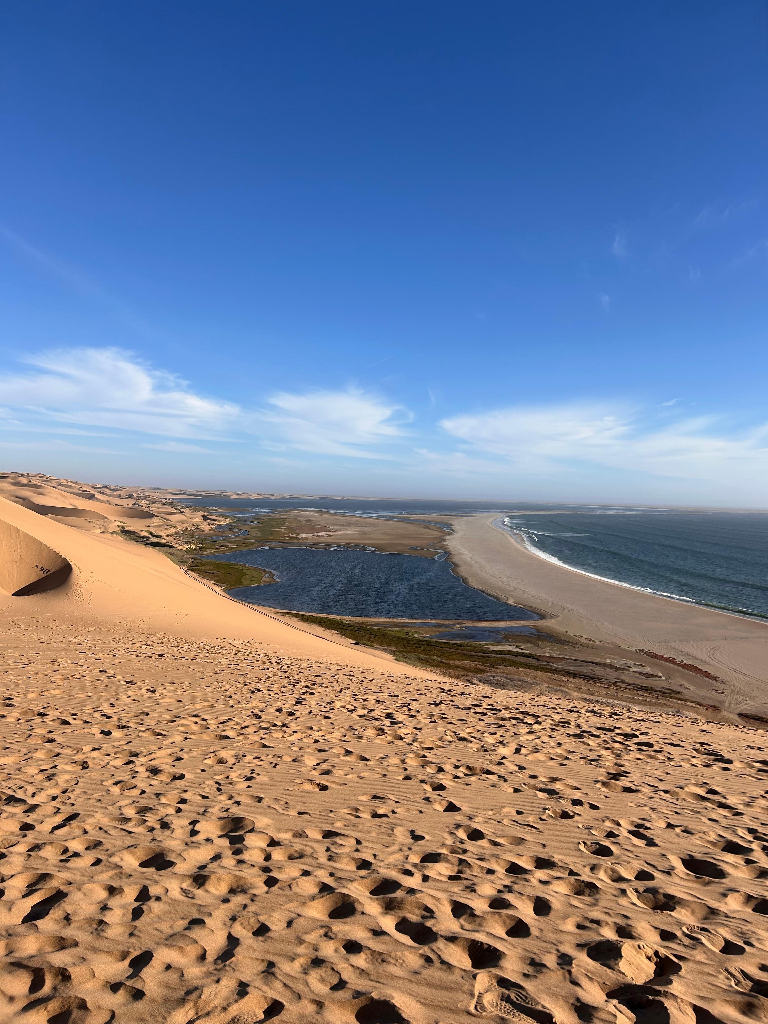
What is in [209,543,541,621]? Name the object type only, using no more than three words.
pond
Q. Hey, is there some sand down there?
Yes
